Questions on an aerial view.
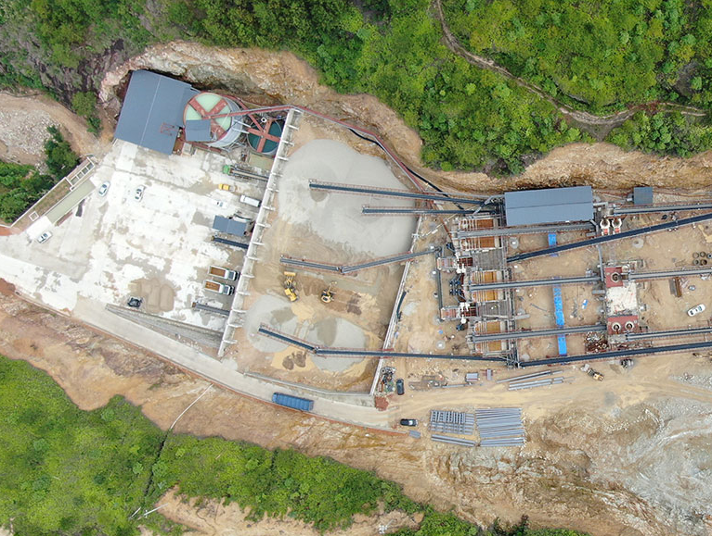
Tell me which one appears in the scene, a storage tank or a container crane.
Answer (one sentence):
Looking from above, you can make out a storage tank.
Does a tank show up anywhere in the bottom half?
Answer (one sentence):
No, I see no tank in the bottom half.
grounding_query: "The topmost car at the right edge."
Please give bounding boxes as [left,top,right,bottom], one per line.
[687,304,706,317]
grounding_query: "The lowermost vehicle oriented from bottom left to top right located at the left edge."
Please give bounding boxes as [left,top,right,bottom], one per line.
[34,231,52,245]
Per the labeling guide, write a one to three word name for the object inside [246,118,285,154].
storage tank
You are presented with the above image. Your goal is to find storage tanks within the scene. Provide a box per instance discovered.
[246,118,285,154]
[182,91,244,146]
